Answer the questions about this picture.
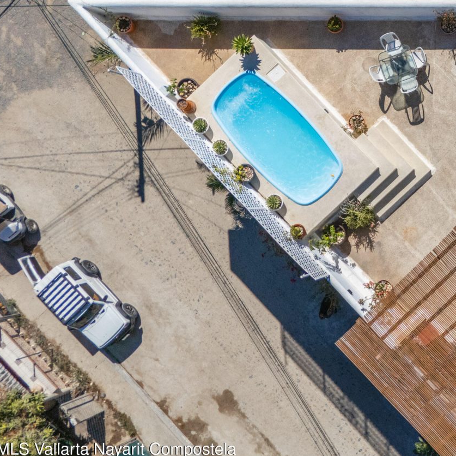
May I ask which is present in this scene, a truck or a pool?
pool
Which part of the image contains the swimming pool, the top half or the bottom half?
top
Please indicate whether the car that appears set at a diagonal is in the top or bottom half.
bottom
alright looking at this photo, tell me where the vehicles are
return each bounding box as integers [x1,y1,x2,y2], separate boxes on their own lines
[4,260,146,358]
[0,176,43,258]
